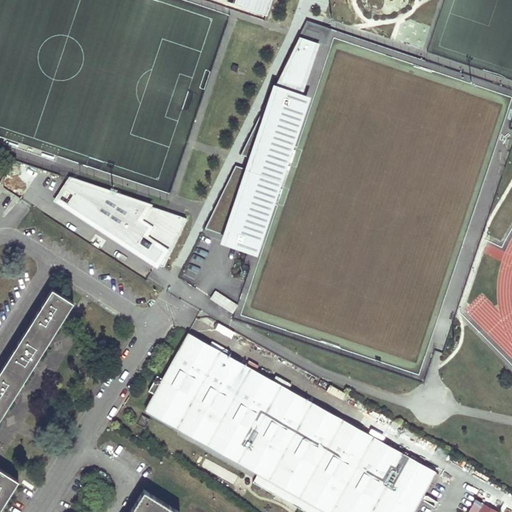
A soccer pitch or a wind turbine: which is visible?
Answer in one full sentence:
Visible in the photo is a soccer pitch.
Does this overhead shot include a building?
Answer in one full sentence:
Yes, you can see a building in this photo.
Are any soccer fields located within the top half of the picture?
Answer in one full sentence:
Yes, a soccer field can be seen within the top half of the picture.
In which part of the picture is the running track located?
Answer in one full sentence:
The running track is located in the right region of the scene.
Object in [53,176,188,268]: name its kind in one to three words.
building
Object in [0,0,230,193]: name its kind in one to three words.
soccer field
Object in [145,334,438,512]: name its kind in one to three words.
warehouse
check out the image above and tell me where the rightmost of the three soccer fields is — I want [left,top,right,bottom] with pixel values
[422,0,512,80]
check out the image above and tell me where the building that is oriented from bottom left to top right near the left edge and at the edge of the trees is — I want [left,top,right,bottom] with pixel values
[0,293,74,418]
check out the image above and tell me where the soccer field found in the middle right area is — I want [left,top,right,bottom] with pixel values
[241,38,510,374]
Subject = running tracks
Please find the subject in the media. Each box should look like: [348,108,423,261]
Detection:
[468,232,512,357]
